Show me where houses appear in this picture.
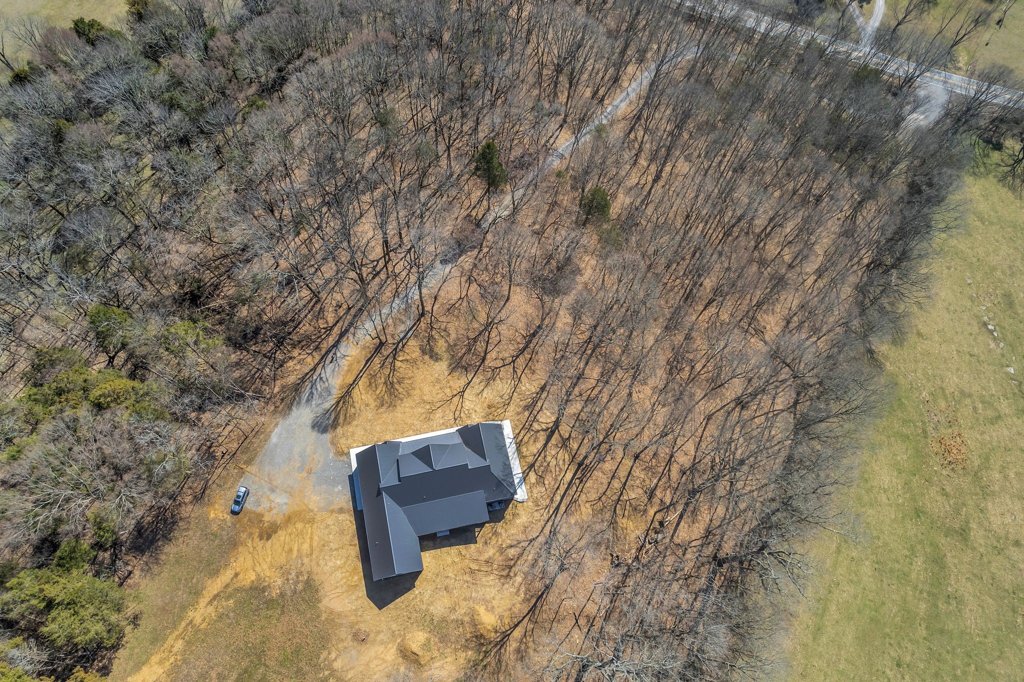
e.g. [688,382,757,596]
[355,423,518,581]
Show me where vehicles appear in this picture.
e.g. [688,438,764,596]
[230,486,251,517]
